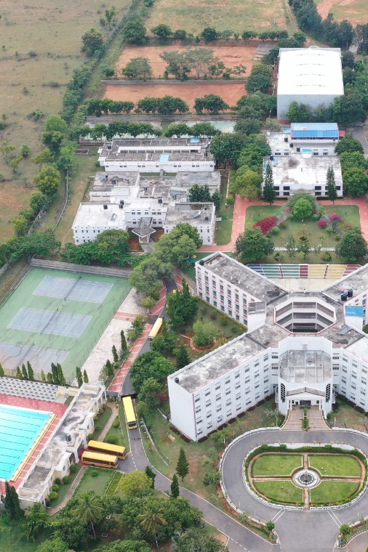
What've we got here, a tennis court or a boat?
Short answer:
tennis court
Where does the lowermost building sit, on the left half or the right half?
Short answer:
left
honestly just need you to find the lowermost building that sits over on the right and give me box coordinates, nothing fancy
[168,251,368,442]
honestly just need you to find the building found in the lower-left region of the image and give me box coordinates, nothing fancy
[17,382,114,510]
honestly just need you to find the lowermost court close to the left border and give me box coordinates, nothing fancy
[0,342,69,374]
